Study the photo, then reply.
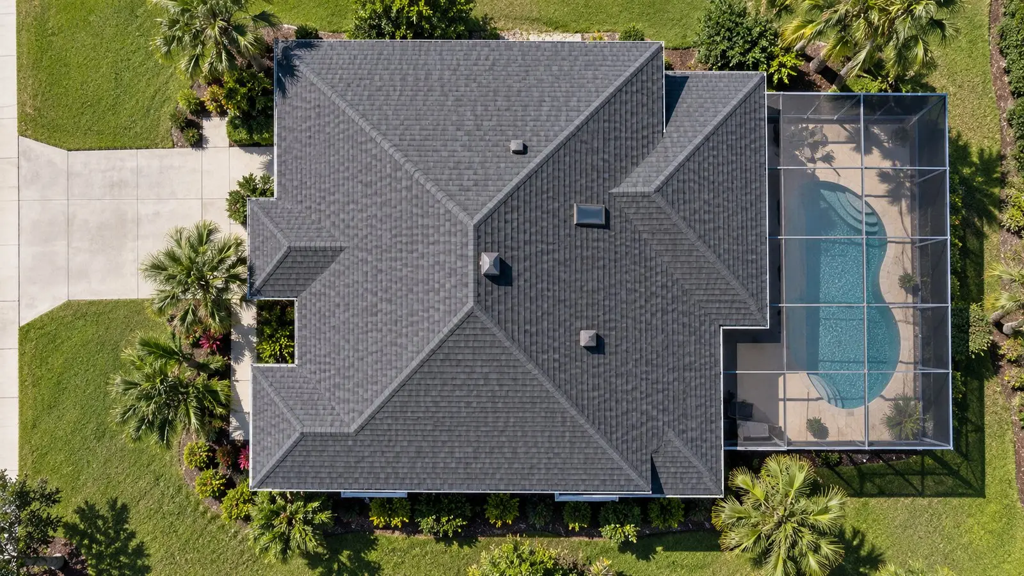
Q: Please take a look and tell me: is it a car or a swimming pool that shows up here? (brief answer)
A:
swimming pool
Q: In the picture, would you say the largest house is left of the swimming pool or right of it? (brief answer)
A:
left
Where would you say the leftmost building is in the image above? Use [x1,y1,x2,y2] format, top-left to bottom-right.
[245,38,771,503]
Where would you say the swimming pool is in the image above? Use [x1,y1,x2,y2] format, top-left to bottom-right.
[776,173,908,416]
